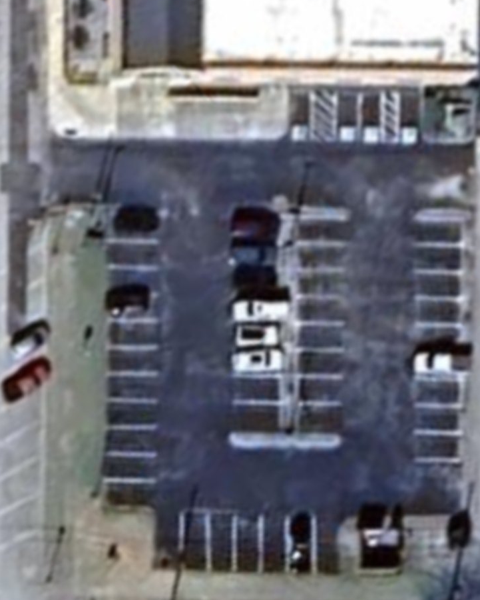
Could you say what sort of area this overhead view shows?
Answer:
parking lot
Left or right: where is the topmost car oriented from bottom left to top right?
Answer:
left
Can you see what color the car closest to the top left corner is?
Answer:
black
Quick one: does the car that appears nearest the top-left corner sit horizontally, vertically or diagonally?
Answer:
horizontally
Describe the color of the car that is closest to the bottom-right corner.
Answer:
black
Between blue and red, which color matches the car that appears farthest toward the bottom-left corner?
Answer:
red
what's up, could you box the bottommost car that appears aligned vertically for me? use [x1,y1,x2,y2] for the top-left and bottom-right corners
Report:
[289,516,313,568]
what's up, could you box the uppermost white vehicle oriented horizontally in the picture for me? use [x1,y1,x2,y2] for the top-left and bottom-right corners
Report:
[232,294,288,320]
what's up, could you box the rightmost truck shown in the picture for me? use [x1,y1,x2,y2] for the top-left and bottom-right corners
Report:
[413,346,472,371]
